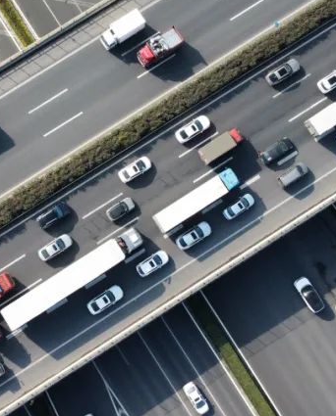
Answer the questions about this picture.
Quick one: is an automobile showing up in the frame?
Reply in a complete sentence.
Yes, looking at the shot, I can spot an automobile.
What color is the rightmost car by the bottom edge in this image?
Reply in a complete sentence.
The color of the rightmost car by the bottom edge is white.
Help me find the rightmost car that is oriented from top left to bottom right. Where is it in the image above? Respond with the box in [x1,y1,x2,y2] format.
[295,277,324,314]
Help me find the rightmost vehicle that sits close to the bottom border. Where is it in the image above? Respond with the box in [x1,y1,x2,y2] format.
[183,381,208,415]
